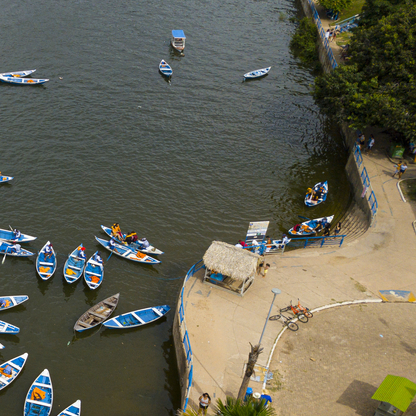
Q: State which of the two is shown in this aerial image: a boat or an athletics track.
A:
boat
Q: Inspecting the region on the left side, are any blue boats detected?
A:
Yes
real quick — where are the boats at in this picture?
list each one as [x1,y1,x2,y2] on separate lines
[102,306,171,329]
[95,236,162,266]
[56,400,80,416]
[170,23,186,56]
[64,244,87,286]
[288,215,334,236]
[302,181,329,208]
[0,70,36,78]
[85,252,104,292]
[0,353,28,390]
[0,296,30,311]
[100,225,164,256]
[24,368,54,416]
[0,77,49,85]
[0,175,13,184]
[159,60,173,79]
[0,240,34,258]
[74,293,120,333]
[0,320,21,336]
[0,228,37,243]
[37,243,57,282]
[244,67,272,81]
